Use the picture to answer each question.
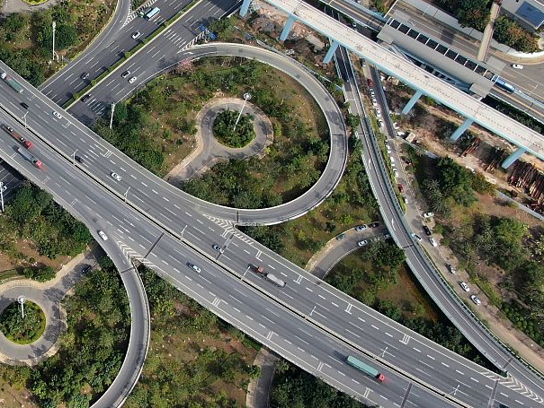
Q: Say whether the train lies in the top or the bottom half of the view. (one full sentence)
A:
You can find the train in the top half.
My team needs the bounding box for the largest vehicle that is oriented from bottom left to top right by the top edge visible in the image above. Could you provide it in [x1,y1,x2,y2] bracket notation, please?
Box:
[142,2,163,21]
